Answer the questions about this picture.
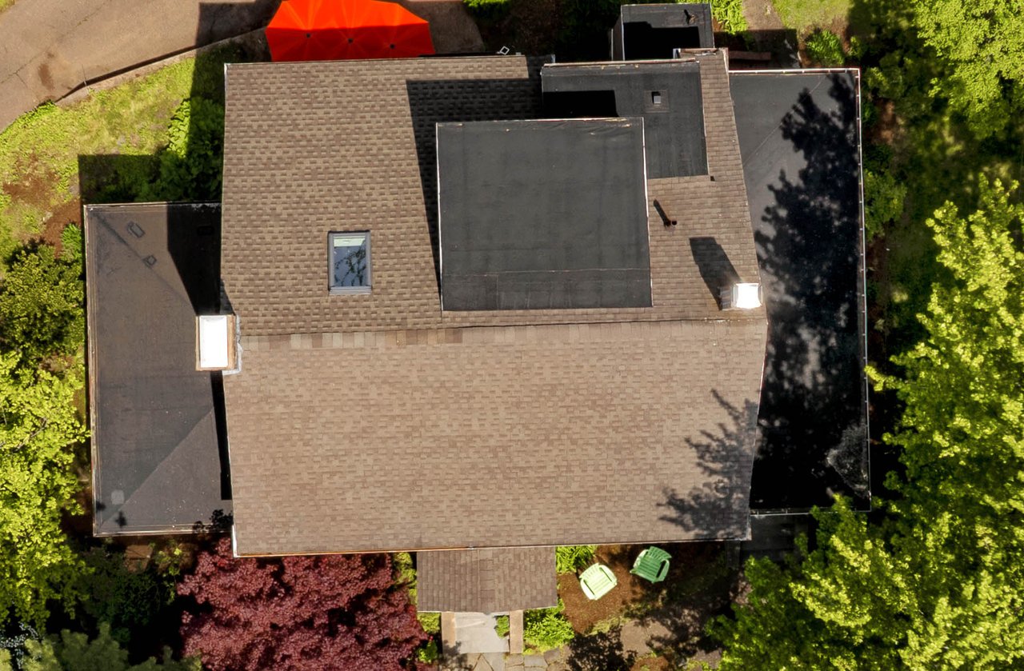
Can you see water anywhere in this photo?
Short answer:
No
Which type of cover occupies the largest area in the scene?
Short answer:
buildings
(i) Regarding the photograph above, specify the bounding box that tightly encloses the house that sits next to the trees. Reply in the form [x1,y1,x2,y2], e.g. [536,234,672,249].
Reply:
[84,3,871,618]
